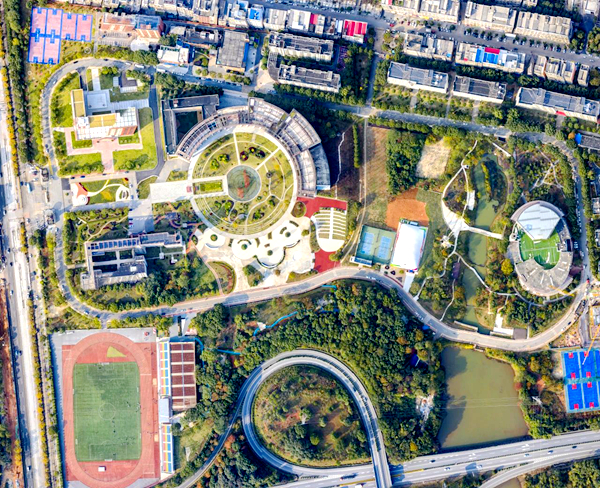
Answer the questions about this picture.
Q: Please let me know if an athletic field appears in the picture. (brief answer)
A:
Yes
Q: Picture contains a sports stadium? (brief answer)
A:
Yes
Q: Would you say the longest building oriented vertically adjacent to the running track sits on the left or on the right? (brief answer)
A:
left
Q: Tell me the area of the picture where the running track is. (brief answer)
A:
bottom left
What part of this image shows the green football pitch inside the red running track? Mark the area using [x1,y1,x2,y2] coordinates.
[74,361,141,462]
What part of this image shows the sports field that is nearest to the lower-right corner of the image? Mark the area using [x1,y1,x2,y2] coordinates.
[518,224,557,269]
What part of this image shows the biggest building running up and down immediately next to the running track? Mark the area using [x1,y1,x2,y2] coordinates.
[169,339,198,409]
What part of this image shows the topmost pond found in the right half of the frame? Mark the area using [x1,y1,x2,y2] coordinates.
[440,346,529,455]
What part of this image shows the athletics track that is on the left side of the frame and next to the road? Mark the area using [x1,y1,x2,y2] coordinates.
[62,333,159,488]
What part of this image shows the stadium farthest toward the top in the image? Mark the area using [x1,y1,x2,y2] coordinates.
[507,200,574,296]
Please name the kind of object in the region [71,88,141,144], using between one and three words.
building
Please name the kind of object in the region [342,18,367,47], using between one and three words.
building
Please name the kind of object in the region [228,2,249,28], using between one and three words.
house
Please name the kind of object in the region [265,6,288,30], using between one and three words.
house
